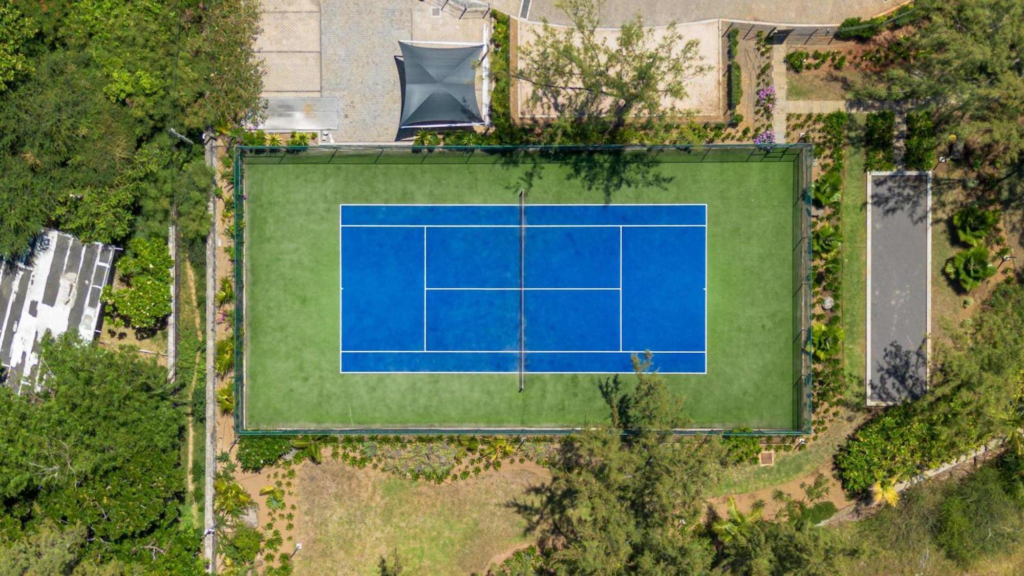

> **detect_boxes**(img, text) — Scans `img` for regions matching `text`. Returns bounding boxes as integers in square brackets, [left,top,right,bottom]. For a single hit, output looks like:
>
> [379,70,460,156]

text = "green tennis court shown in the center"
[243,151,804,431]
